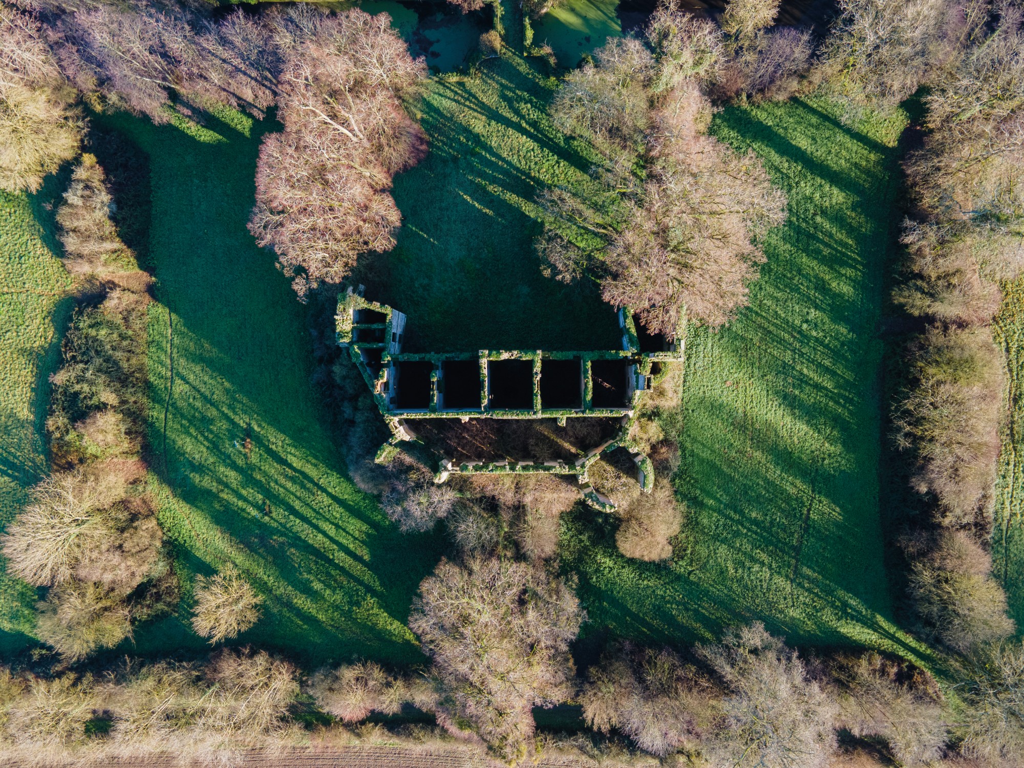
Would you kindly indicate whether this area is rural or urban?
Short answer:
rural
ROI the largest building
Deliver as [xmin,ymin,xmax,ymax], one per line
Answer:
[332,284,687,515]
